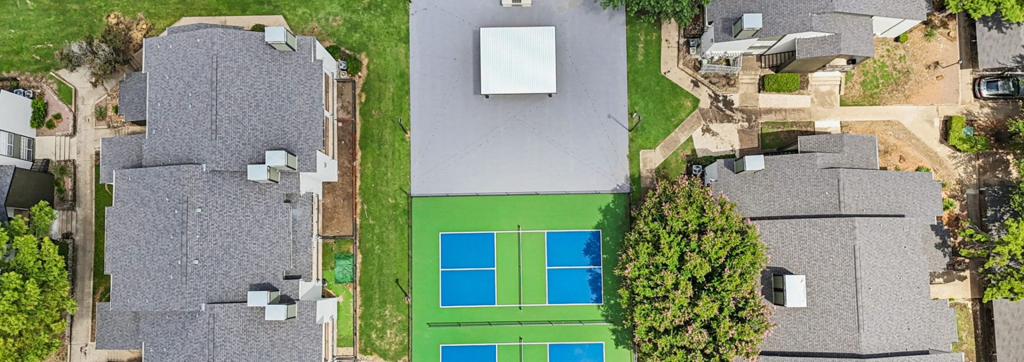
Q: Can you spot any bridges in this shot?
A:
No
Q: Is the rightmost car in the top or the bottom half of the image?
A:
top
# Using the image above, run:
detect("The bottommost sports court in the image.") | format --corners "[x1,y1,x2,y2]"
[440,342,606,362]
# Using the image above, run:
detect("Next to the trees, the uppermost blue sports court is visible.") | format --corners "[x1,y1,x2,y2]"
[439,229,604,308]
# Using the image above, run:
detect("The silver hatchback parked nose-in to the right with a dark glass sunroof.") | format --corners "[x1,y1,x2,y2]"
[973,74,1024,101]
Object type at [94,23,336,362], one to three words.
building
